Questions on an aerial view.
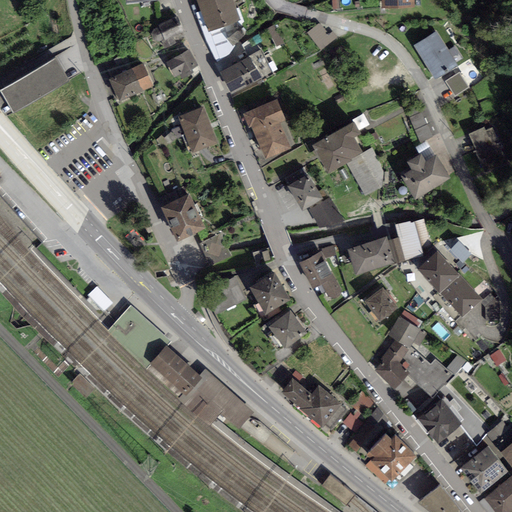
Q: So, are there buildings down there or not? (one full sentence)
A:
Yes, the image includes a building.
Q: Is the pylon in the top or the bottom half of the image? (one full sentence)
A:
It is in the bottom half that the pylon appears.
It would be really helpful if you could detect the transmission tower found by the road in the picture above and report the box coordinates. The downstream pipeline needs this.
[140,455,160,475]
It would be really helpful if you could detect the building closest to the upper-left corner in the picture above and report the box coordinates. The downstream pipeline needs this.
[1,58,68,111]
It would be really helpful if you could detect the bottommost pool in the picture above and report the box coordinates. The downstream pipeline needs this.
[432,322,452,341]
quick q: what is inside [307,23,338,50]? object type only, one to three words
shed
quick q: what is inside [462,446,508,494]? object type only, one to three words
house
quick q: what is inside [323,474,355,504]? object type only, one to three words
building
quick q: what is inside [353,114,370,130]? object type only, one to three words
gazebo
